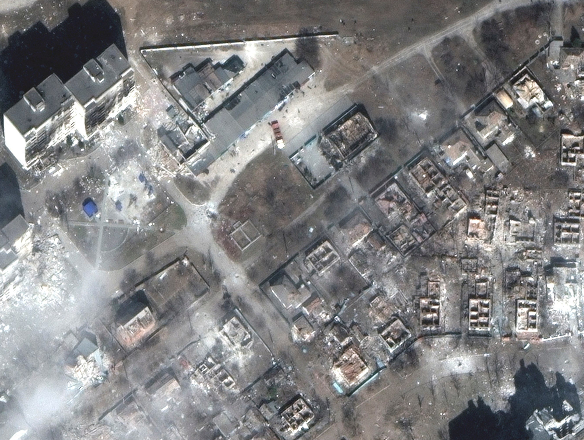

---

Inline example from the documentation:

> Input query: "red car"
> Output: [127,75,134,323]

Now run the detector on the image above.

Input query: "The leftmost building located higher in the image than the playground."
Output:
[4,42,137,169]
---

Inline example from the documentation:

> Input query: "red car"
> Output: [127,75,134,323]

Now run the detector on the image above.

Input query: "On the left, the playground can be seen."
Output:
[106,172,153,224]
